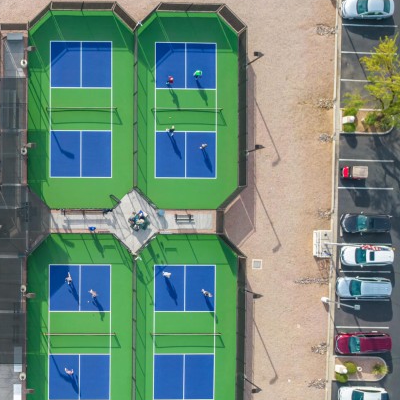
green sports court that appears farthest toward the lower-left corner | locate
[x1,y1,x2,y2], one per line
[28,234,134,400]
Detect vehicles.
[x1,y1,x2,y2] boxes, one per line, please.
[337,331,398,356]
[342,244,398,268]
[339,275,398,300]
[340,385,392,400]
[342,212,398,236]
[343,0,398,20]
[341,166,375,179]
